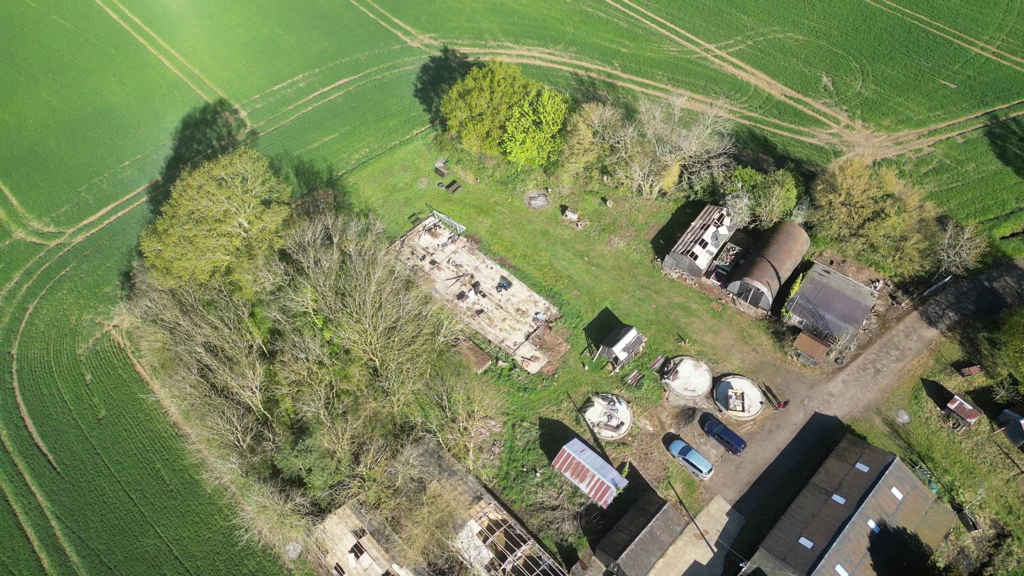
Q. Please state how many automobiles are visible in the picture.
two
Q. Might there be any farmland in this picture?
Yes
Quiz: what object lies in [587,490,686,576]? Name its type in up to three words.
barn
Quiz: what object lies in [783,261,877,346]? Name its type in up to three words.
shed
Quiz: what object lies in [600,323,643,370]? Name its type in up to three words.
shed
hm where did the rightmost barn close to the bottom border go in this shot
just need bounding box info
[723,432,956,576]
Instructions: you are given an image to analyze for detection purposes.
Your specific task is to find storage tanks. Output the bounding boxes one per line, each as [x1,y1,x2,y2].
[583,393,634,443]
[662,356,712,403]
[712,374,764,423]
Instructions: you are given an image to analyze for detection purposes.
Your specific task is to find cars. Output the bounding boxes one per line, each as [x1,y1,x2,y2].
[668,439,717,484]
[704,418,751,461]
